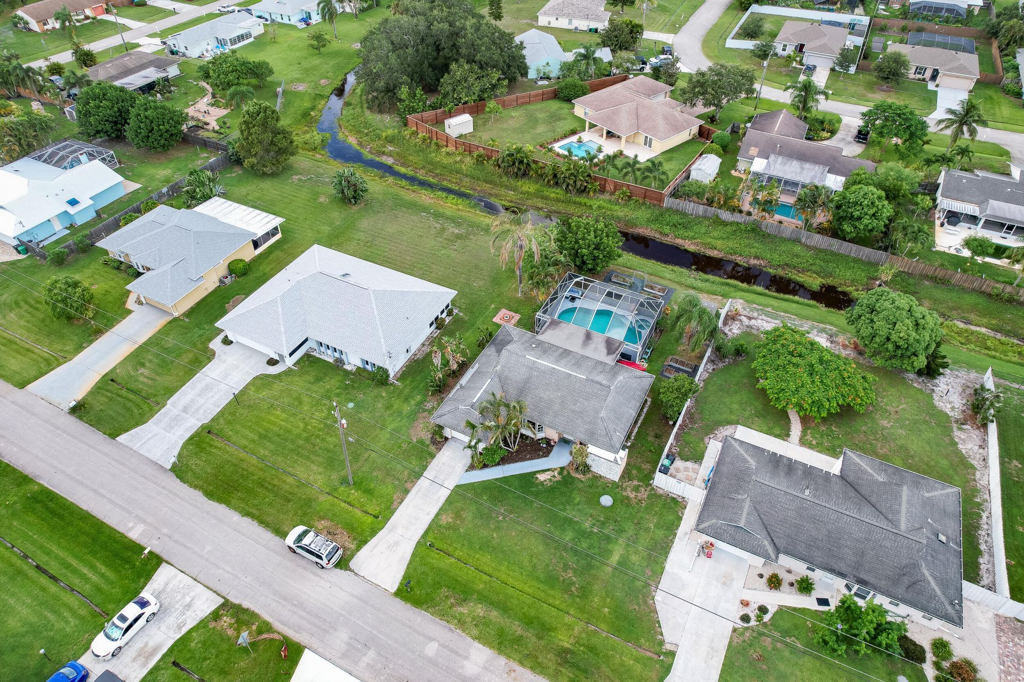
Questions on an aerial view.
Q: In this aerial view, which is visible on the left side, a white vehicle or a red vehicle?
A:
white vehicle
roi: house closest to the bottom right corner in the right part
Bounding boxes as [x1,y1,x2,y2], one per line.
[689,435,965,637]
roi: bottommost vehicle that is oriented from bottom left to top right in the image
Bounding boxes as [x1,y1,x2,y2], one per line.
[86,590,161,664]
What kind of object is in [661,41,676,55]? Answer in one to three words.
car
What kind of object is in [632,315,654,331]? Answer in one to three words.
swimming pool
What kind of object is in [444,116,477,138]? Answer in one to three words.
shed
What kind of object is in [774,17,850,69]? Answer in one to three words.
house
